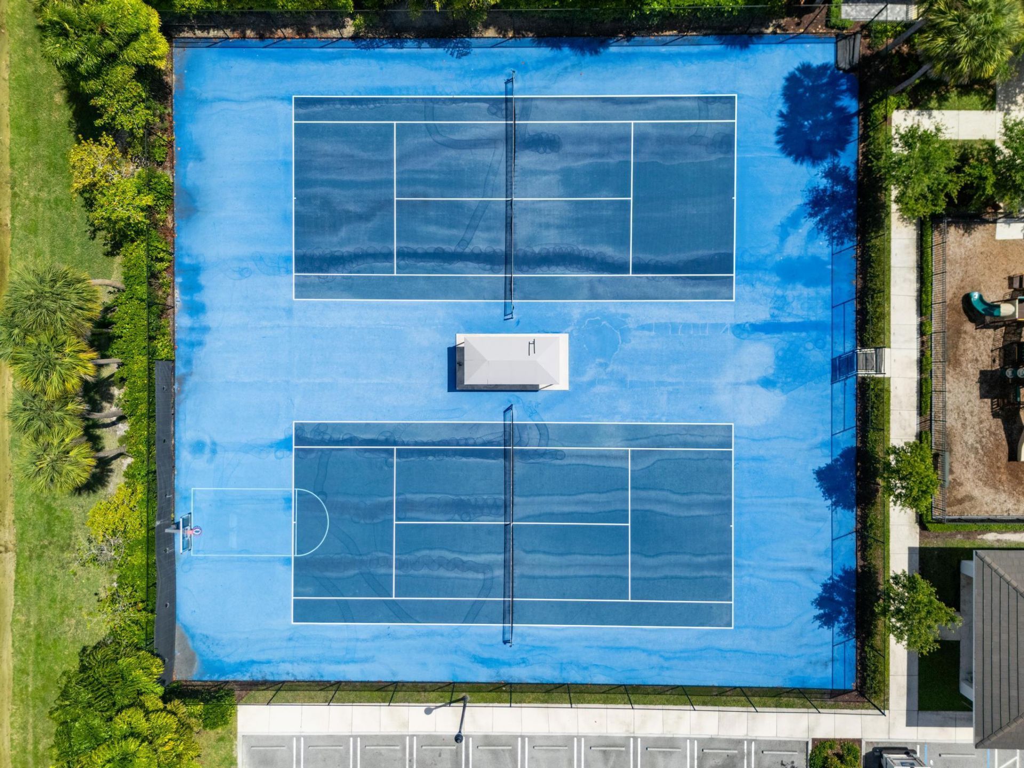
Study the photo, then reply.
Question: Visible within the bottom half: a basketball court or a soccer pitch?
basketball court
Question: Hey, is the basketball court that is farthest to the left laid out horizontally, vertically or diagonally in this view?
horizontally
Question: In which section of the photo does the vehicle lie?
bottom right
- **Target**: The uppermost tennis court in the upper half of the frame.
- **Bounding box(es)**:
[293,94,737,301]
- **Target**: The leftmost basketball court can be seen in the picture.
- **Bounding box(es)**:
[192,488,329,556]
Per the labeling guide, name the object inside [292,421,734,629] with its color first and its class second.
blue tennis court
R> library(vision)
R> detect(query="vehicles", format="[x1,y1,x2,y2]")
[881,745,935,768]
